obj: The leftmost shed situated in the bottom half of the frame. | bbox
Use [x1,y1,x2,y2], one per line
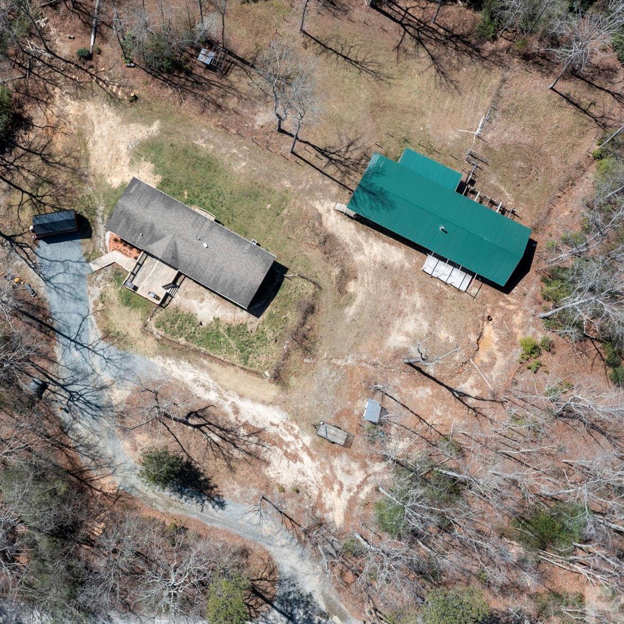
[361,399,381,423]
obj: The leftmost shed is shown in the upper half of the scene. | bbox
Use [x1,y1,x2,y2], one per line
[33,209,79,237]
